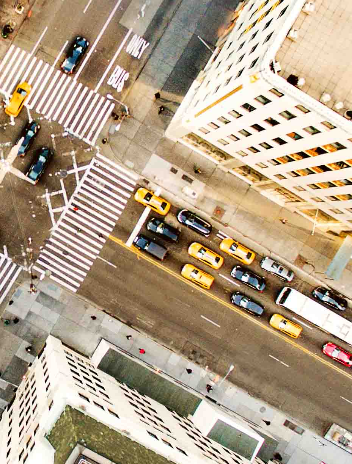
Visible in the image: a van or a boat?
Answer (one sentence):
Of the two, only a van appears.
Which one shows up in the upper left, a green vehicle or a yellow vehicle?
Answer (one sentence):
Looking in the upper left, you will find a yellow vehicle.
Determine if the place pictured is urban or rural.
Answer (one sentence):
The area shown here is urban.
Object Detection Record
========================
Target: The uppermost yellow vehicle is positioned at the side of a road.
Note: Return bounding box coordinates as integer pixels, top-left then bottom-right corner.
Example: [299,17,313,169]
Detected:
[5,79,31,119]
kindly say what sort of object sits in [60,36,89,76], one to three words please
car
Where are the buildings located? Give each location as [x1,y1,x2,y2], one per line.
[162,0,352,279]
[0,334,285,464]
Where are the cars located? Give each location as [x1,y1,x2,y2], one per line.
[228,265,269,294]
[26,146,54,187]
[309,285,350,314]
[266,311,305,341]
[258,255,295,284]
[14,119,43,160]
[228,289,269,319]
[144,215,182,244]
[186,241,226,271]
[320,340,352,369]
[132,187,173,217]
[218,237,258,267]
[175,209,214,238]
[60,36,89,76]
[178,261,218,291]
[5,79,31,119]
